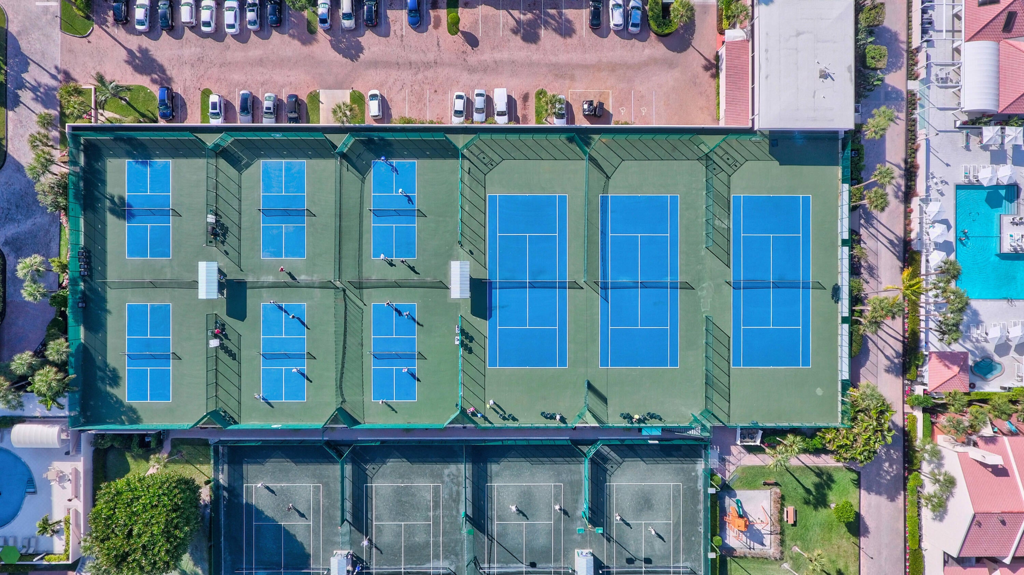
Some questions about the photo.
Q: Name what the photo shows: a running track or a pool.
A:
pool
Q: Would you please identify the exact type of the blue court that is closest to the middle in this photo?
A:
tennis court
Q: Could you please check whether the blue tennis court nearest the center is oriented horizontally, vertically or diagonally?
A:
vertically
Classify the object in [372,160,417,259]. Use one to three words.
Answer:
sports court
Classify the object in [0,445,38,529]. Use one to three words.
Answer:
swimming pool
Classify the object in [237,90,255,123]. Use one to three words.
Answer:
car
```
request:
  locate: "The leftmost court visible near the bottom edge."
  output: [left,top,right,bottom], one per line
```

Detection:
[243,485,322,575]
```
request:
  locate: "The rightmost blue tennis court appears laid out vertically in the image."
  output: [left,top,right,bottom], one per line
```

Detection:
[732,194,811,368]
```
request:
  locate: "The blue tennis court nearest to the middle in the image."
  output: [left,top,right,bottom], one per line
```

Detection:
[488,194,568,368]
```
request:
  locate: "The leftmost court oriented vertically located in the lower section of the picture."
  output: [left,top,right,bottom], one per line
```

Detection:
[126,303,171,402]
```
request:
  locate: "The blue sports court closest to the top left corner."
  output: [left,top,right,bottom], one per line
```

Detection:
[126,160,171,259]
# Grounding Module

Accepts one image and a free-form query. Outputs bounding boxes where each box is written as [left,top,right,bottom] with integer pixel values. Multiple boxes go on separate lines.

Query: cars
[553,94,569,123]
[111,0,131,24]
[178,0,198,27]
[156,85,176,121]
[156,0,175,31]
[237,90,255,123]
[339,0,356,30]
[450,91,467,123]
[285,93,302,123]
[199,0,217,33]
[245,0,262,31]
[317,0,333,30]
[406,0,422,28]
[268,0,283,27]
[208,93,226,123]
[366,89,383,122]
[471,89,488,123]
[260,92,278,123]
[609,0,626,31]
[587,0,604,29]
[223,0,241,35]
[362,0,379,26]
[627,0,644,34]
[133,0,152,32]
